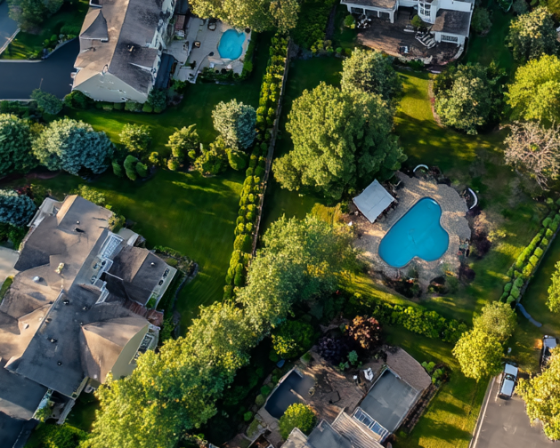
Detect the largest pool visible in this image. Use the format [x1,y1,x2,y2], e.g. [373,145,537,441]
[375,194,452,271]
